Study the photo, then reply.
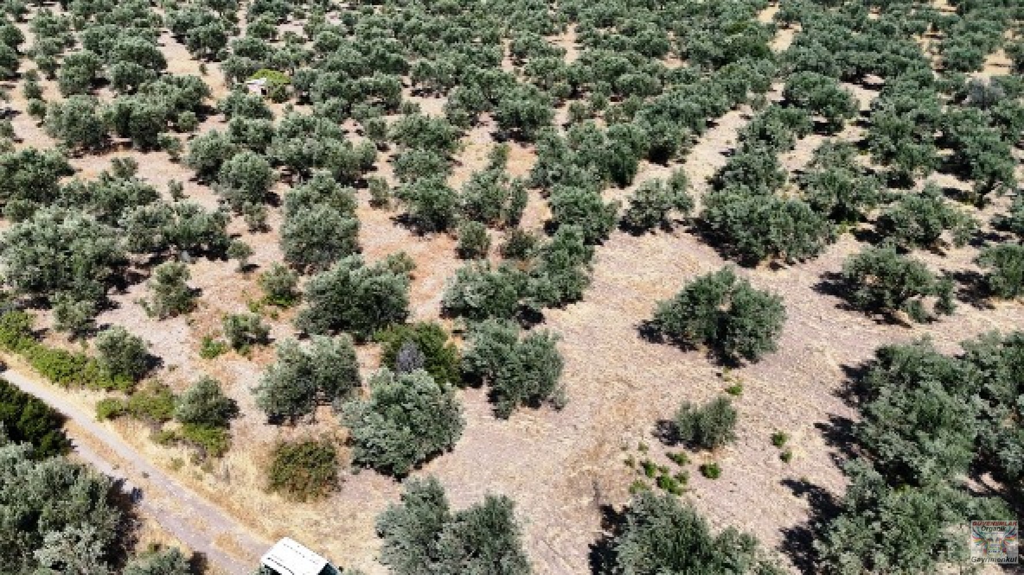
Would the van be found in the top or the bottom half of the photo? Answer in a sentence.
The bottom half of the photo is where the van is.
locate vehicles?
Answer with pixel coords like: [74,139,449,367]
[260,538,341,575]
